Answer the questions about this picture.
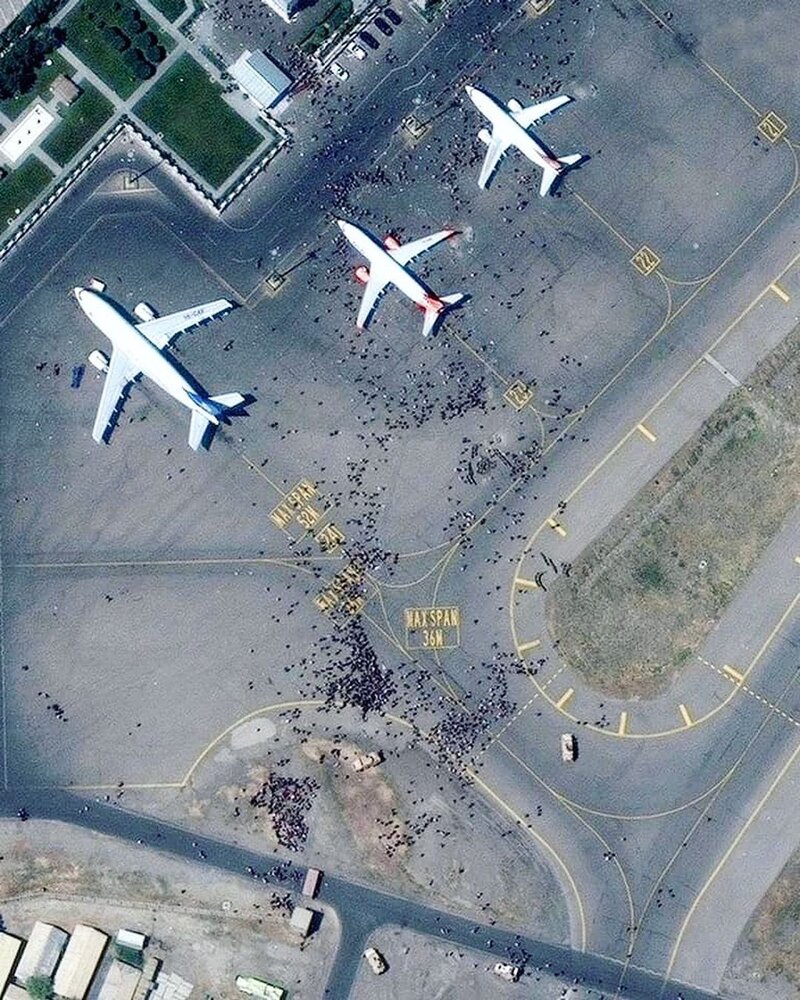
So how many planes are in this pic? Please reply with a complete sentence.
My tally gives 3 planes in this view.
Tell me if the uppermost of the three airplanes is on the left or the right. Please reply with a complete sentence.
You can find the uppermost of the three airplanes on the right side of the picture.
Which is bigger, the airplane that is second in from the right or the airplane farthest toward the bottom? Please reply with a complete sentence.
The airplane farthest toward the bottom covers a greater area than the airplane that is second in from the right.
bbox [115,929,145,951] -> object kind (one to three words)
shed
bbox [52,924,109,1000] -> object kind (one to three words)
building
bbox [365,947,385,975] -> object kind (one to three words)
vehicle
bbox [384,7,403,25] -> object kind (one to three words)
car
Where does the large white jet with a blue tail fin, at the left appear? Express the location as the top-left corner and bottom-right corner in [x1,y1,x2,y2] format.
[73,289,245,448]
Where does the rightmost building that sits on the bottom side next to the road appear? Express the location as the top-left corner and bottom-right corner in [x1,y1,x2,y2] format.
[290,905,314,935]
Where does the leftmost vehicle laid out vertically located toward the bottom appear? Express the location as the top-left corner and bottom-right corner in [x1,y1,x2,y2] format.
[303,868,318,898]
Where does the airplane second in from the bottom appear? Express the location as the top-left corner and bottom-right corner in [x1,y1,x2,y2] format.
[337,220,464,332]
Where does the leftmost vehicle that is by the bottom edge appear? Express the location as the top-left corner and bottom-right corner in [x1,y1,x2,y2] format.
[235,975,283,1000]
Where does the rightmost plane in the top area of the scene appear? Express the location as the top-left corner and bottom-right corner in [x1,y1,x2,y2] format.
[465,87,584,194]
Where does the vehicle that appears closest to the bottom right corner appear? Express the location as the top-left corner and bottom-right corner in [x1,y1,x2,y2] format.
[493,964,520,980]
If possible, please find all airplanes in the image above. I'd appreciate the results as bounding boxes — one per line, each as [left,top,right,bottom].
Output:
[337,220,464,332]
[73,289,245,448]
[465,87,584,194]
